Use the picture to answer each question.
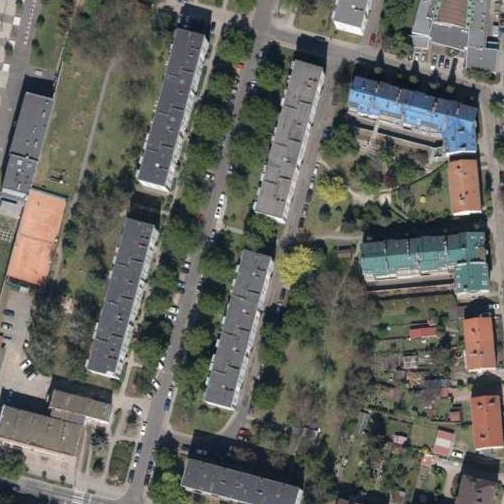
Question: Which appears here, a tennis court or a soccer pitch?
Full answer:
Visible in the photo is a tennis court.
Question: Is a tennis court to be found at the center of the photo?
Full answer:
No, the scene shows no tennis court at the center of the photo.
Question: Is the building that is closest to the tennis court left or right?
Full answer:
You can find the building that is closest to the tennis court on the left side of the picture.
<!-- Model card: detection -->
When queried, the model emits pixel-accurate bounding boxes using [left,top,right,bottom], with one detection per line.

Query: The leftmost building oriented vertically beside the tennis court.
[0,91,58,216]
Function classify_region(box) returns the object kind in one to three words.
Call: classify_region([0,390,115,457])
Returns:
building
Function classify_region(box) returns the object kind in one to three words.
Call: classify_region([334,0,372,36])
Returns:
building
